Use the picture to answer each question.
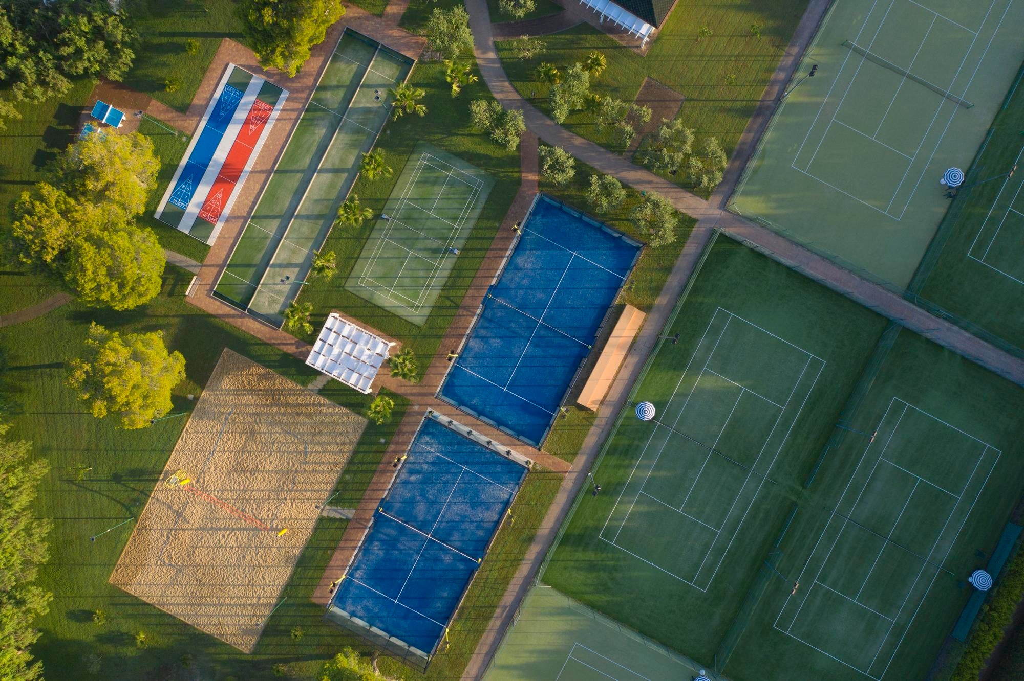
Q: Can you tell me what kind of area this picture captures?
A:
sports ground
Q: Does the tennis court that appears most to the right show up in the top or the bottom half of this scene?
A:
top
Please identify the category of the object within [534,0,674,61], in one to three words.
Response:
building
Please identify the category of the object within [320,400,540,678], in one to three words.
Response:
sports court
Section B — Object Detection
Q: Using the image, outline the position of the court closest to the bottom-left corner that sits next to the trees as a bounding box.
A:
[108,348,368,655]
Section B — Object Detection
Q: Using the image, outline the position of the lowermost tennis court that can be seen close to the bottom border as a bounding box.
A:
[484,585,731,681]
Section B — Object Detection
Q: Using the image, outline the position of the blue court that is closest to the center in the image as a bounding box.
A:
[436,189,648,452]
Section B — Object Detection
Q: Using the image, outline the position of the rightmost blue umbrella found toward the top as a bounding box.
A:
[937,167,963,188]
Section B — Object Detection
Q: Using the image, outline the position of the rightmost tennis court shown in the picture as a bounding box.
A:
[907,80,1024,354]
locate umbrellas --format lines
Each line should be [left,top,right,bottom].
[635,401,655,421]
[693,669,712,681]
[962,569,989,590]
[937,167,963,188]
